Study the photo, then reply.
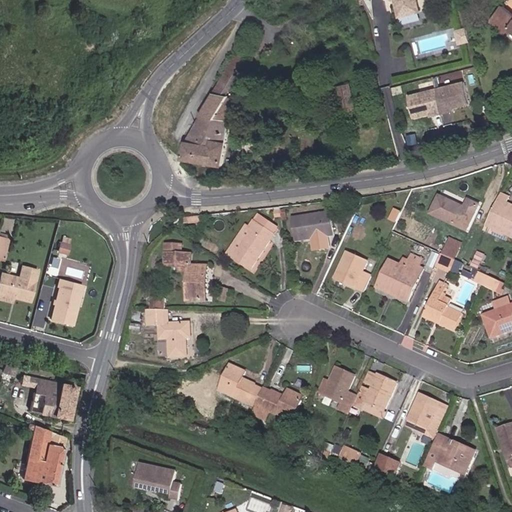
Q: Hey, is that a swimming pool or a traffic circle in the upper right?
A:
swimming pool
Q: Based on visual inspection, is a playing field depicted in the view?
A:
No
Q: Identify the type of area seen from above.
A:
residential area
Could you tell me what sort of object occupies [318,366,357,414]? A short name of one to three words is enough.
house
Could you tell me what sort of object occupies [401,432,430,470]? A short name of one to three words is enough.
swimming pool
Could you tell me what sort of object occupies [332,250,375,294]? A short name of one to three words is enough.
house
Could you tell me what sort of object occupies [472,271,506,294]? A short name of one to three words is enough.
shed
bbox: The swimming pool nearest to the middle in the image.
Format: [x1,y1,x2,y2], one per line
[296,362,314,375]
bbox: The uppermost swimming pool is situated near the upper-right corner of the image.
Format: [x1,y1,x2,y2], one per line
[412,30,458,58]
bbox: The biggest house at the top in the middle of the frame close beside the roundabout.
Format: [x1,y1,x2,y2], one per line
[178,92,233,168]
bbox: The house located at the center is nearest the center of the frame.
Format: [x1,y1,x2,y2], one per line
[229,214,280,272]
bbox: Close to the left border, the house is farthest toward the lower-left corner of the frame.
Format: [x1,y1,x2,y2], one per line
[25,426,68,485]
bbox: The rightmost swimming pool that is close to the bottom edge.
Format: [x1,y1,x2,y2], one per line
[425,469,462,494]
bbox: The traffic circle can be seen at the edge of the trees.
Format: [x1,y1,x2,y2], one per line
[72,126,172,229]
